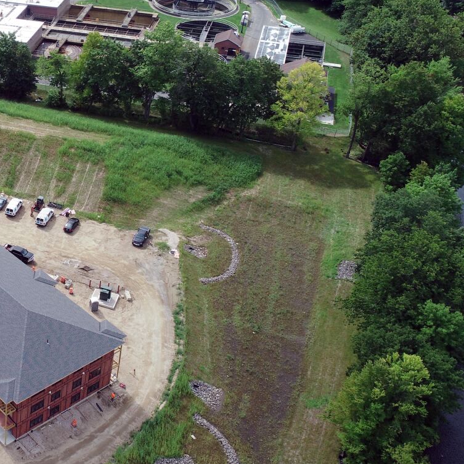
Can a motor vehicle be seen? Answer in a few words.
Yes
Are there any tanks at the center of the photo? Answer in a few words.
No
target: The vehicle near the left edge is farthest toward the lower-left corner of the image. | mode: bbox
[3,239,34,260]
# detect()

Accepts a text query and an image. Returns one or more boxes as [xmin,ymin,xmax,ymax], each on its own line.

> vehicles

[3,239,34,260]
[132,225,153,246]
[29,200,47,214]
[0,195,10,210]
[63,216,81,232]
[35,207,57,226]
[4,198,25,215]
